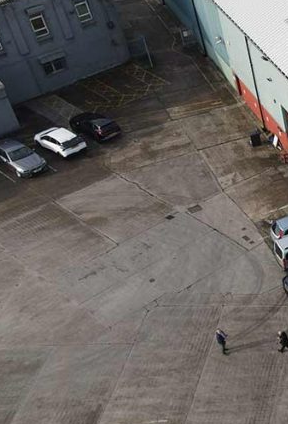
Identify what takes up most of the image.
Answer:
paved ground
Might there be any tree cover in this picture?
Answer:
No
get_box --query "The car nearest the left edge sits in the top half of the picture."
[0,138,47,173]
